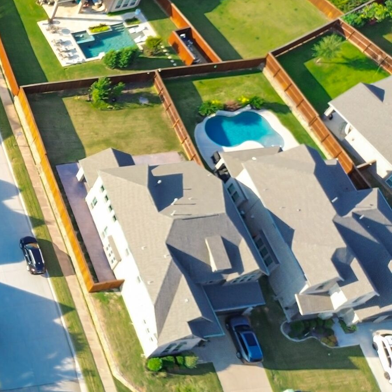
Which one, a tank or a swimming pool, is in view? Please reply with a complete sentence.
There is a swimming pool in the scene.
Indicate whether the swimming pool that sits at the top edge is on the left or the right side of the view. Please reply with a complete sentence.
It is on the left.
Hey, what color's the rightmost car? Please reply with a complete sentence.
The rightmost car looks white in the image.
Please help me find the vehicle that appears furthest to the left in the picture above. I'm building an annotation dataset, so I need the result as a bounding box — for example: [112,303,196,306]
[19,237,48,278]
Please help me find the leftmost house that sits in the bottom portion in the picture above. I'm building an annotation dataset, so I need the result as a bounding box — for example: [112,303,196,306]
[75,149,270,362]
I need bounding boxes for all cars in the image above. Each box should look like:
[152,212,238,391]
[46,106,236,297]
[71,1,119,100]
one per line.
[19,237,48,278]
[227,317,266,363]
[364,332,392,379]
